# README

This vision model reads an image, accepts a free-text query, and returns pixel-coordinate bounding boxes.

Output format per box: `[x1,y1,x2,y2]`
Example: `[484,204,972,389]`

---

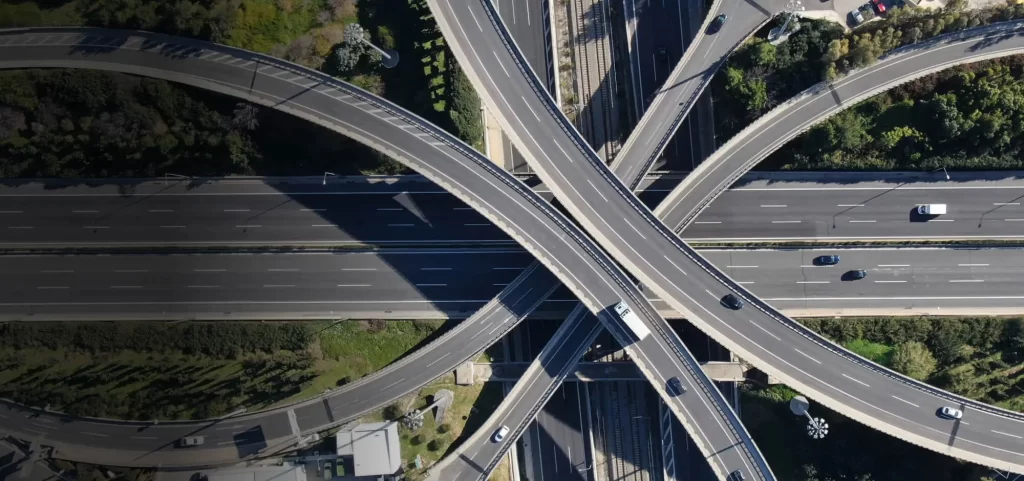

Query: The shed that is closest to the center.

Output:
[456,360,473,384]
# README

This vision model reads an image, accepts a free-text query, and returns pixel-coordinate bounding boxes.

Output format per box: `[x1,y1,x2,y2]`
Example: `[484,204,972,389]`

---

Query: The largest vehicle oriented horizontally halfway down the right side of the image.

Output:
[917,203,945,215]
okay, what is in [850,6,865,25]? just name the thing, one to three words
car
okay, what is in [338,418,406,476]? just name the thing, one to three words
building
